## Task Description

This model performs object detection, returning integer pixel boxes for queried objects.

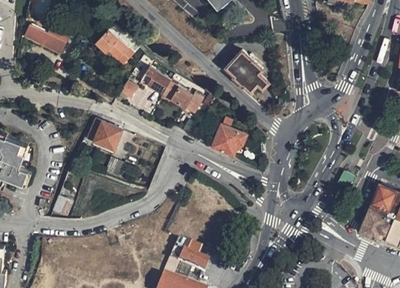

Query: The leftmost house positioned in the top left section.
[25,22,70,54]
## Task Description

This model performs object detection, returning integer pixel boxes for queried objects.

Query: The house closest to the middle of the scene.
[212,116,249,158]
